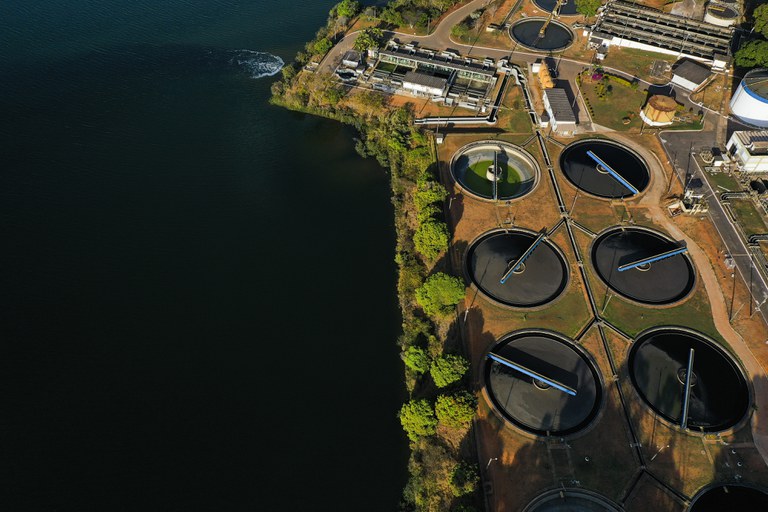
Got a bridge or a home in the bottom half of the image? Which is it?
bridge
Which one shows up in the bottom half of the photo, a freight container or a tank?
tank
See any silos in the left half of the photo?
No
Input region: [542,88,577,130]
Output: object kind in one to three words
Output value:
building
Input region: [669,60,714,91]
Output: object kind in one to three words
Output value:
house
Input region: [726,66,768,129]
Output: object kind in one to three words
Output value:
storage tank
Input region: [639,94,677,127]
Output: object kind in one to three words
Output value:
silo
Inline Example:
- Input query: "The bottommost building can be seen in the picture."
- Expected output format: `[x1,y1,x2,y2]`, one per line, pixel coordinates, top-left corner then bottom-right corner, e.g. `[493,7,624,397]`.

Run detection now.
[676,187,709,217]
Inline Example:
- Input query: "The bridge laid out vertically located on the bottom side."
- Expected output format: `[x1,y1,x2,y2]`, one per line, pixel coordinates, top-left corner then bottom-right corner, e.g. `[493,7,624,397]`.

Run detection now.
[677,348,695,431]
